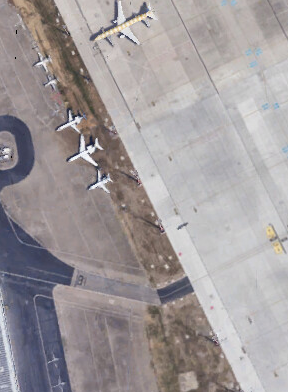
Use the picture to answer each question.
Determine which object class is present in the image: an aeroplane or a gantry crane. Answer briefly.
aeroplane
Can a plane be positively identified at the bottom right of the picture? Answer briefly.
No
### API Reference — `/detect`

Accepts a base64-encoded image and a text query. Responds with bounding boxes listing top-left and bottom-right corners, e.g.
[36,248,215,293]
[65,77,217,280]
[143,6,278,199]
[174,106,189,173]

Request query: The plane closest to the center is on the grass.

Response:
[90,171,115,194]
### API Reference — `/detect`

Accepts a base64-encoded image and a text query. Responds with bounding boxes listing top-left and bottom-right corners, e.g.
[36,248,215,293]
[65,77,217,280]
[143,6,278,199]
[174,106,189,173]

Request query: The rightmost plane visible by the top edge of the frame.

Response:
[95,1,156,43]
